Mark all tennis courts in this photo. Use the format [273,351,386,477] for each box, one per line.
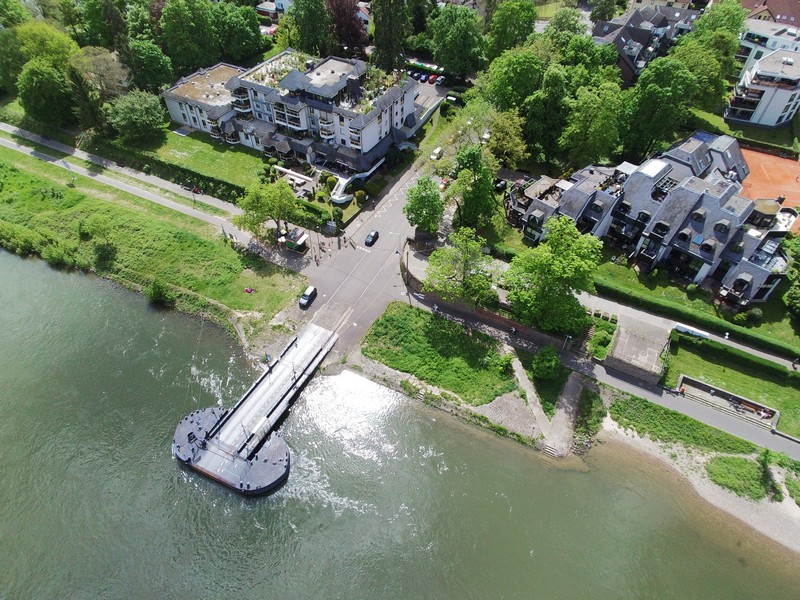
[740,153,800,206]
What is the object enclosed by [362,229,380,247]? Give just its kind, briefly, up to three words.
car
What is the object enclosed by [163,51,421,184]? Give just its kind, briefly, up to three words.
building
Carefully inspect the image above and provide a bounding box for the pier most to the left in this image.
[172,406,291,495]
